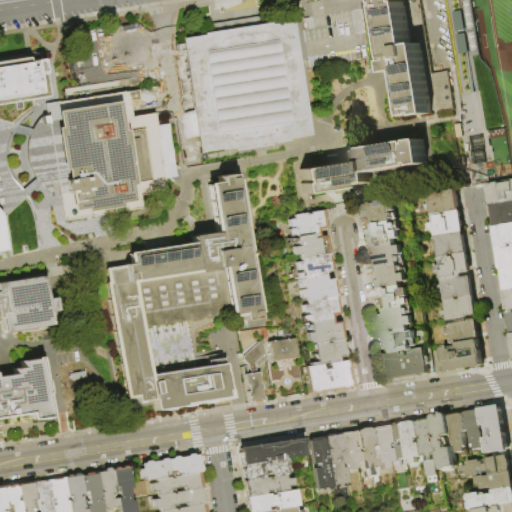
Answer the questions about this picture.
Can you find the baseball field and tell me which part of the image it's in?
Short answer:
top right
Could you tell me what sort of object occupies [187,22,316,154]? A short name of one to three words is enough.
building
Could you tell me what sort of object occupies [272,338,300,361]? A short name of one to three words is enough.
house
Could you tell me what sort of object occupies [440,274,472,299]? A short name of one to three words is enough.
building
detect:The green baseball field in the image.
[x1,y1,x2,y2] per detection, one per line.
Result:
[475,0,512,128]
